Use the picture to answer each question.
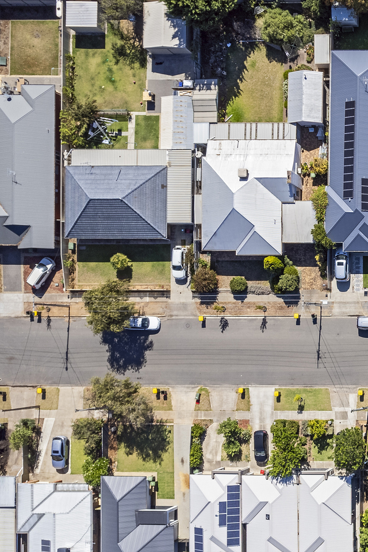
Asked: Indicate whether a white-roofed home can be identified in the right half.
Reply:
Yes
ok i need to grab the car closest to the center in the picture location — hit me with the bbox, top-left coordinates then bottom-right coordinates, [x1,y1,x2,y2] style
[169,247,188,280]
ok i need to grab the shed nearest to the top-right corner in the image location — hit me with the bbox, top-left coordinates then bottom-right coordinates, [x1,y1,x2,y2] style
[331,7,360,29]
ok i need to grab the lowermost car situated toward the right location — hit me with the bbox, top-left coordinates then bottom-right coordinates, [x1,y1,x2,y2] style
[252,430,269,466]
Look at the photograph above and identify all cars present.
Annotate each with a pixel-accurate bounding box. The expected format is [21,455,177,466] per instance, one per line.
[169,247,188,280]
[123,315,162,331]
[25,256,57,291]
[357,316,368,330]
[50,435,70,469]
[332,248,350,281]
[252,430,269,466]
